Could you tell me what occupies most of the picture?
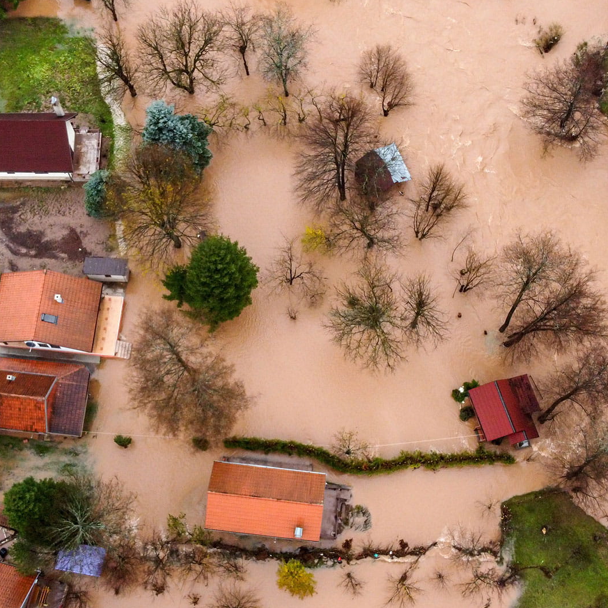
water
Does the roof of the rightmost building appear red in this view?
Yes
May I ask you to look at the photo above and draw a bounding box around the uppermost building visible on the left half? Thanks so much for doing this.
[0,98,101,185]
